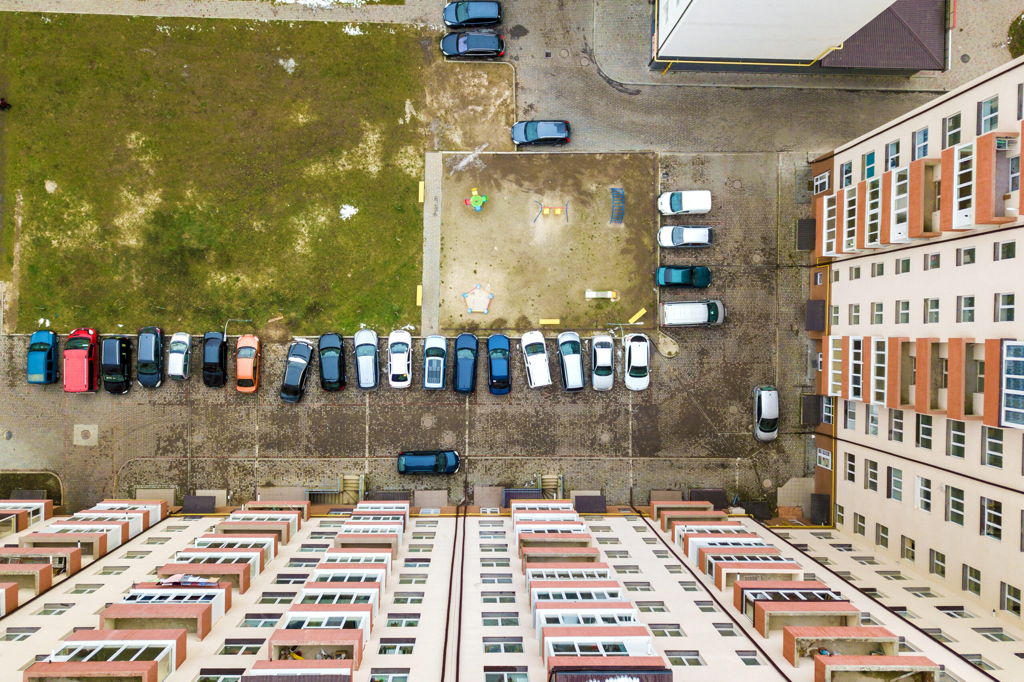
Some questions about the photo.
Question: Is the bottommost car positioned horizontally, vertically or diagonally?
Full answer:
In this picture, the bottommost car is oriented horizontally.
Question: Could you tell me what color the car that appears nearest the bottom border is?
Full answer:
The car that appears nearest the bottom border looks blue in the image.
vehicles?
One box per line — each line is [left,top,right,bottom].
[132,326,165,388]
[656,262,712,290]
[29,330,64,382]
[351,328,383,391]
[316,333,347,391]
[589,336,617,390]
[511,116,570,147]
[440,28,505,60]
[484,334,513,395]
[385,330,414,387]
[199,332,229,387]
[165,332,196,379]
[556,332,585,392]
[65,328,102,391]
[279,341,314,402]
[451,333,480,395]
[656,222,712,250]
[100,334,134,394]
[232,334,262,393]
[398,448,460,478]
[443,0,502,29]
[624,334,653,390]
[656,299,723,329]
[657,188,710,216]
[751,385,782,441]
[420,335,450,389]
[520,330,552,388]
